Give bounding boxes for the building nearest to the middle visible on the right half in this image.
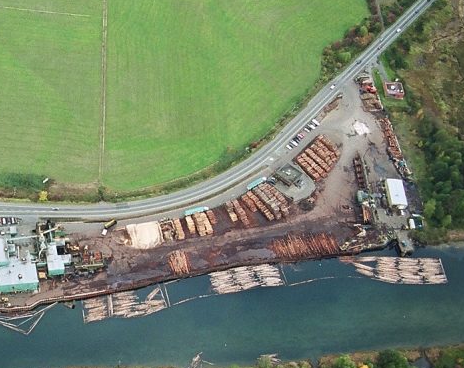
[275,163,302,186]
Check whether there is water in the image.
Yes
